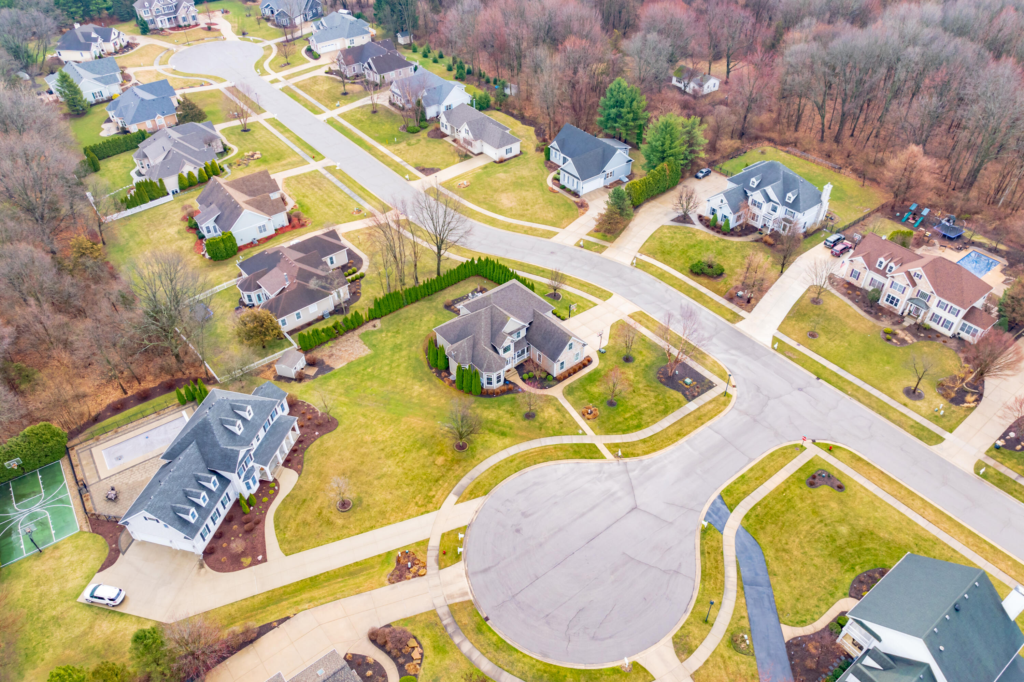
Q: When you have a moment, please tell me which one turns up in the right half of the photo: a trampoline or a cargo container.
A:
trampoline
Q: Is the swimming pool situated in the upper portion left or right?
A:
right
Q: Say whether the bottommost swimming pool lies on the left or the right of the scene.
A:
left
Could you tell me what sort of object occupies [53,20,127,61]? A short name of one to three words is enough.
house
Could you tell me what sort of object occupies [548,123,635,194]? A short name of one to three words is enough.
house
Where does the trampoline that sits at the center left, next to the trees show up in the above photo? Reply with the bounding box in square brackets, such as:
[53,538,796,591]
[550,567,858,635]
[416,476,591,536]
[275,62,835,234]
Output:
[188,304,216,325]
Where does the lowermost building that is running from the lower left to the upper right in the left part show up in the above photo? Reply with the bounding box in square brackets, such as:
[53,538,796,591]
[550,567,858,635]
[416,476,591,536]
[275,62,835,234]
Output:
[116,378,301,554]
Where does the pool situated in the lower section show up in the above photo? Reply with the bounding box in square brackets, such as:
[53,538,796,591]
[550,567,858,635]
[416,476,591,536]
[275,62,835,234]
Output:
[101,416,186,469]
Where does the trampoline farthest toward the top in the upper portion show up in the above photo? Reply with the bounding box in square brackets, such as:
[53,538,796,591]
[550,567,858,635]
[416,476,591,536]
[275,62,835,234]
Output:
[932,215,968,242]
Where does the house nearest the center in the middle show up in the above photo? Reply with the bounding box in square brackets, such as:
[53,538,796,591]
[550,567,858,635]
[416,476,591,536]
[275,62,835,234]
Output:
[432,278,589,386]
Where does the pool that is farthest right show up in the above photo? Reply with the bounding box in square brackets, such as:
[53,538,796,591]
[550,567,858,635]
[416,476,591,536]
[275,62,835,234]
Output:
[957,250,1001,278]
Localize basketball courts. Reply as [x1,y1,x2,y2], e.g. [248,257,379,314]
[0,465,81,568]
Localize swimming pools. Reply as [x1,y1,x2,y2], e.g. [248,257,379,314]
[957,250,1001,278]
[101,416,186,469]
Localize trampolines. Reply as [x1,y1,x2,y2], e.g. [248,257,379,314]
[188,304,216,325]
[932,215,968,242]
